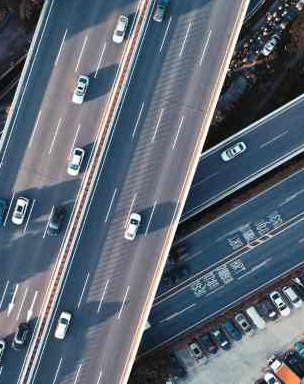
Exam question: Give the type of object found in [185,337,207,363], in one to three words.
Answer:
car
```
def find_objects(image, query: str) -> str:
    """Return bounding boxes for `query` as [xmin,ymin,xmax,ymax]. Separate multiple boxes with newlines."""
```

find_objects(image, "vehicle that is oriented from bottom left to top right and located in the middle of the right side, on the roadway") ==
[220,141,247,161]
